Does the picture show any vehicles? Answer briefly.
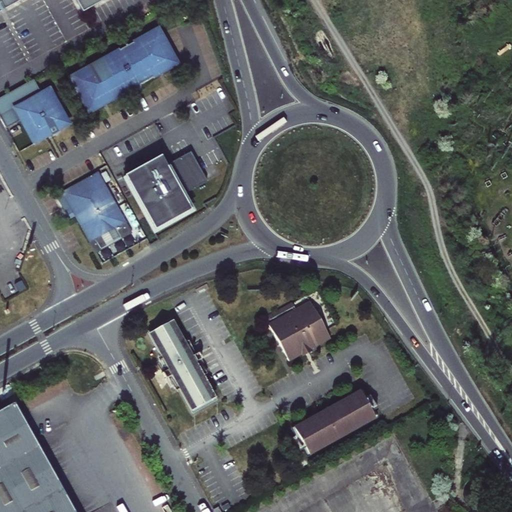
Yes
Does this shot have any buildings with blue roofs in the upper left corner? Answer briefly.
Yes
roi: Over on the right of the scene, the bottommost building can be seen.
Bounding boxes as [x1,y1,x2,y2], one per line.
[293,389,378,456]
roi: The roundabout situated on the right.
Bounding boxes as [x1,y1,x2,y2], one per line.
[232,102,398,267]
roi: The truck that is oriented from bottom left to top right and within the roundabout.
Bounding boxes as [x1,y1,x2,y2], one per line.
[252,118,286,143]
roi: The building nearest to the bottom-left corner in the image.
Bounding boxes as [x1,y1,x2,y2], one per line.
[0,402,77,512]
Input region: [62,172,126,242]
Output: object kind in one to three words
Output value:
building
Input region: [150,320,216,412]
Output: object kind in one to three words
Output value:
building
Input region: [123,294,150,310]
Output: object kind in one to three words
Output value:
vehicle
